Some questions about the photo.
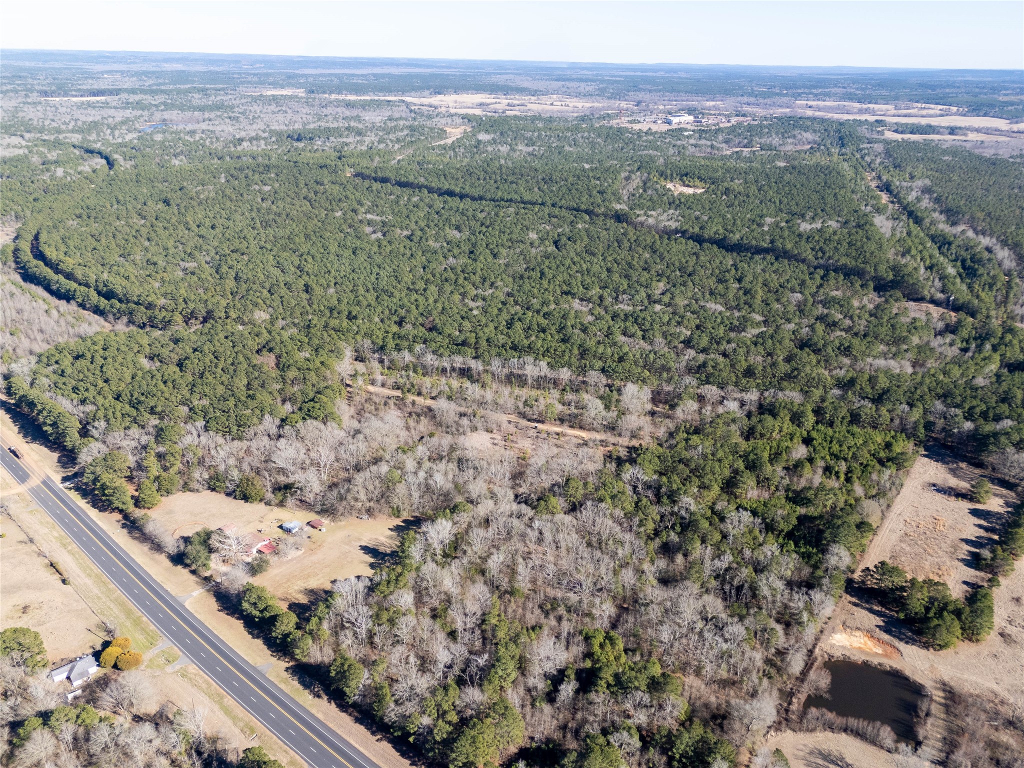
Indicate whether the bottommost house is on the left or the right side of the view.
left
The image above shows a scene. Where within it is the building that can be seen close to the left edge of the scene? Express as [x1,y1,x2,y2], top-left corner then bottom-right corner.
[49,655,101,687]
